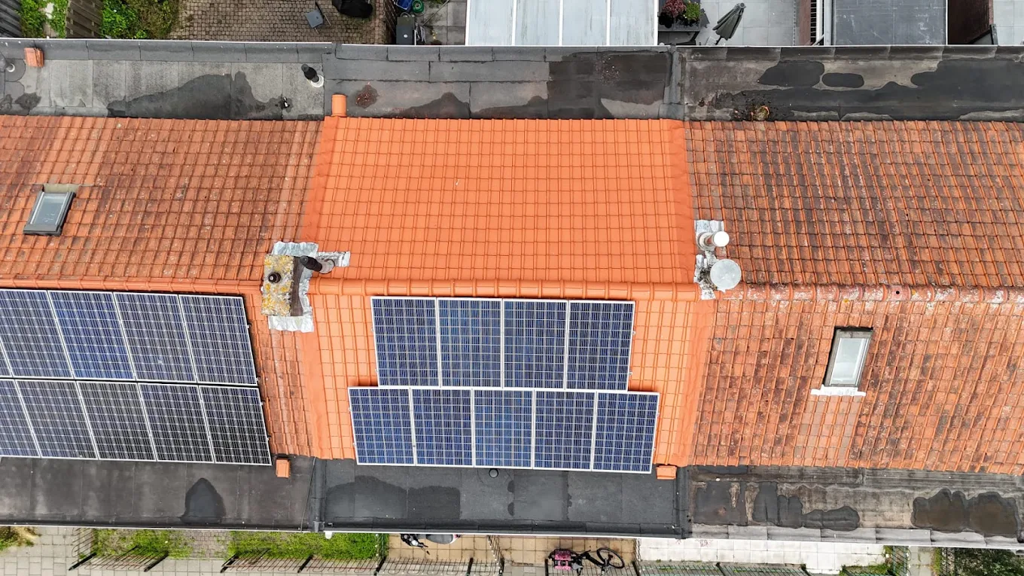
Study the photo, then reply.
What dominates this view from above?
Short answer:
buildings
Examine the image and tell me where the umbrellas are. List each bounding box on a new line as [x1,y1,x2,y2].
[706,0,755,45]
